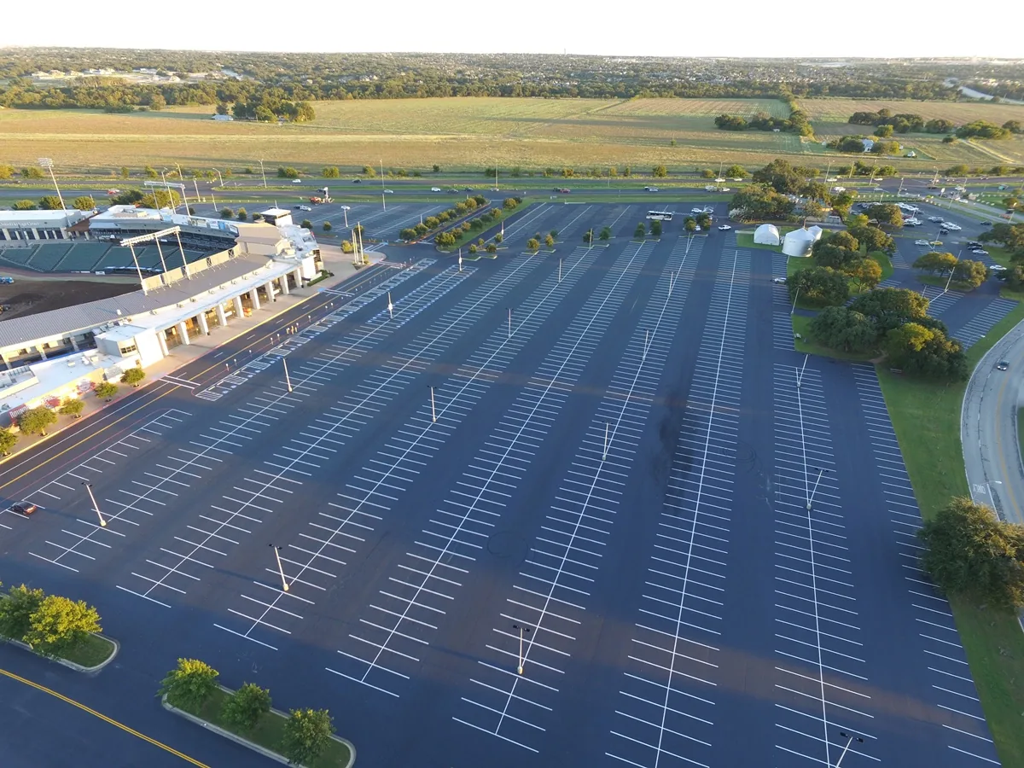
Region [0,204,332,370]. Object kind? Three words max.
stadium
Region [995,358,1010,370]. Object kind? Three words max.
vehicle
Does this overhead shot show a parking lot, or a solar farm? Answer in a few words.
parking lot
